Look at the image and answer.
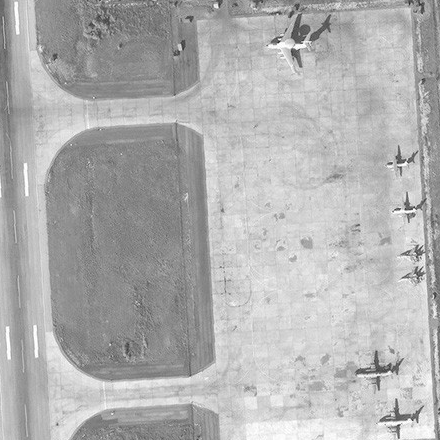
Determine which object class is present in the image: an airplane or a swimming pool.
airplane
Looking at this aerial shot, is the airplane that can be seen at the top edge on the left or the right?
right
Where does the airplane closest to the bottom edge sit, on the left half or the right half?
right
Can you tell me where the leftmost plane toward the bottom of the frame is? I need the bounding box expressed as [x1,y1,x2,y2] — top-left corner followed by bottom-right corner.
[356,354,394,394]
